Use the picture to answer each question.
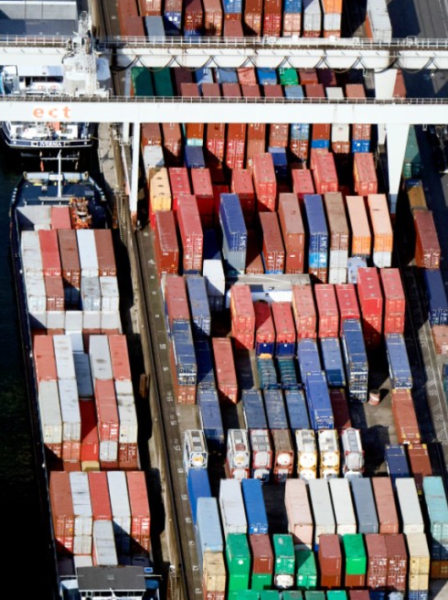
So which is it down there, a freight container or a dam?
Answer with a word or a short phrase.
freight container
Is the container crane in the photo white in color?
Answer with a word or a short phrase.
Yes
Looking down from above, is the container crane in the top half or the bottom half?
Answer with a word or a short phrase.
top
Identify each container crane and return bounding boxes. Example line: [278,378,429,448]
[0,0,448,215]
